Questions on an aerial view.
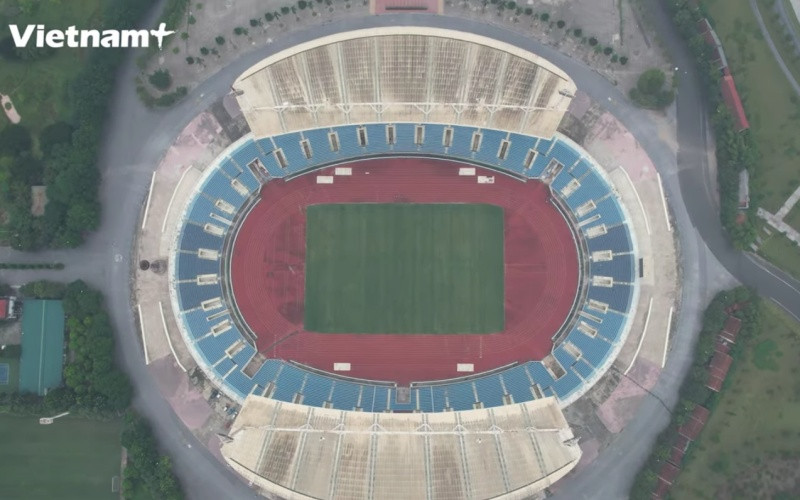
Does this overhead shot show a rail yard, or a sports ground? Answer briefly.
sports ground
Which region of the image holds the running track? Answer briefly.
center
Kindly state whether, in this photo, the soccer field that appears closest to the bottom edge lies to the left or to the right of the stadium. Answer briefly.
to its left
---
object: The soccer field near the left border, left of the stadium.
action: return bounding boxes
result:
[0,413,126,500]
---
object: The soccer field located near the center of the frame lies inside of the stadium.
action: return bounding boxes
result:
[305,203,505,334]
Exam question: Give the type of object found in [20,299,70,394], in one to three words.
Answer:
building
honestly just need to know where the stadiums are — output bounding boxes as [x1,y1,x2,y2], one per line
[169,27,641,500]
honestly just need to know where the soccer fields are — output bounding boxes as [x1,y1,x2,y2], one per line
[305,203,505,334]
[0,413,126,500]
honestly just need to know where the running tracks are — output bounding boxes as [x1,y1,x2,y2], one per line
[232,158,577,386]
